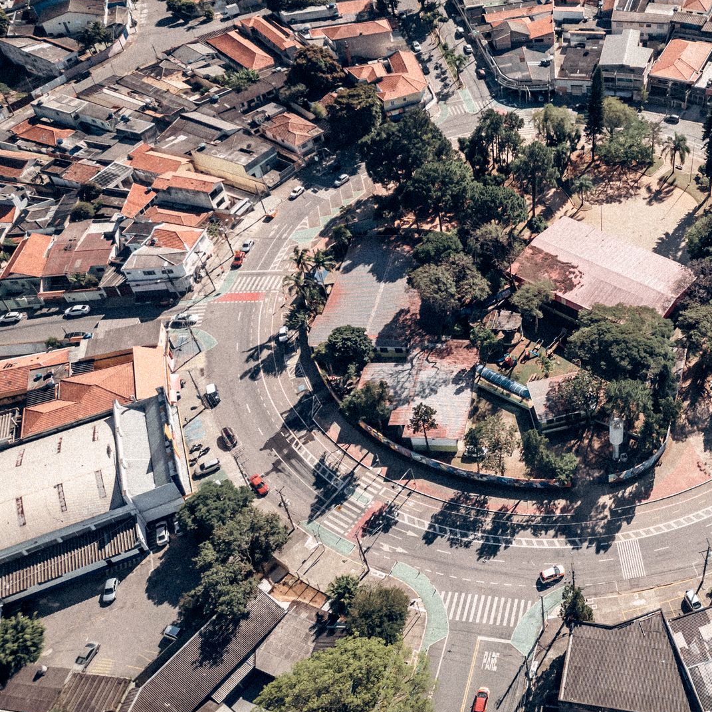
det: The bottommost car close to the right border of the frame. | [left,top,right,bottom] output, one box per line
[681,579,706,614]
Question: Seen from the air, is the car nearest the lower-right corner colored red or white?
white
